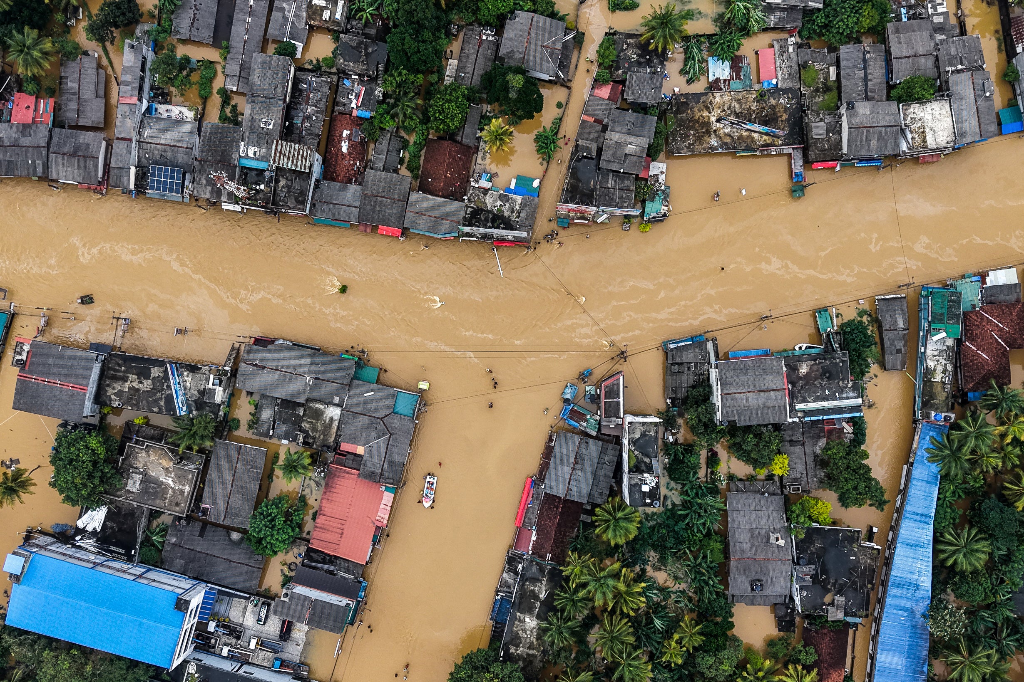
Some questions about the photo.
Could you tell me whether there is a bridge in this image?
No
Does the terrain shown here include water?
Yes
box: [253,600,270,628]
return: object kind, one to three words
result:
vehicle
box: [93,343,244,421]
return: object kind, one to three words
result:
building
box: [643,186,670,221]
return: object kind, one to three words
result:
shed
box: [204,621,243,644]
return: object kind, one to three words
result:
truck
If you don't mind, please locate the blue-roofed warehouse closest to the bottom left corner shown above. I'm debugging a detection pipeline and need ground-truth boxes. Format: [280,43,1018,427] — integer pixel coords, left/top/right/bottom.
[4,540,209,669]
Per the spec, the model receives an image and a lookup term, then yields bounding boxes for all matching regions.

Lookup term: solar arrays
[148,164,185,194]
